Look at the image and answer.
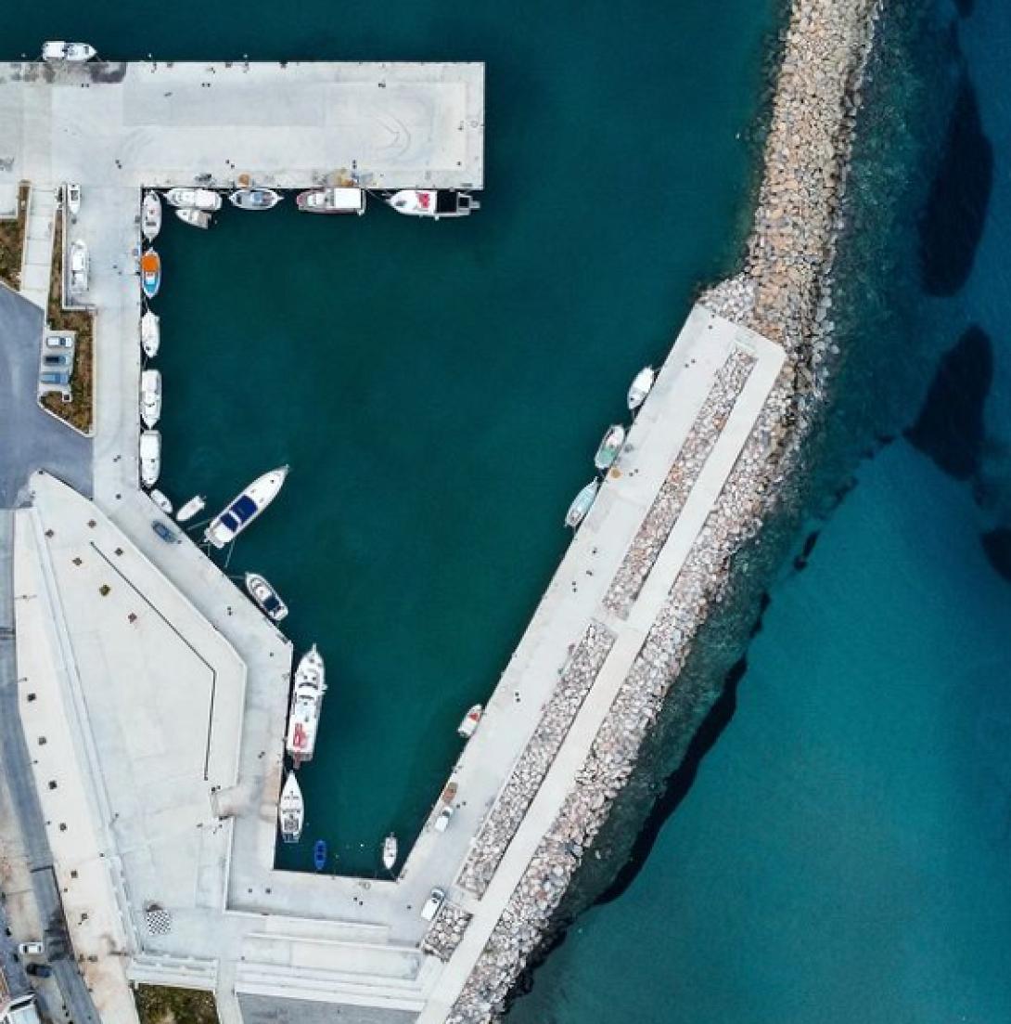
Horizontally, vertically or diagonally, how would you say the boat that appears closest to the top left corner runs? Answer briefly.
horizontally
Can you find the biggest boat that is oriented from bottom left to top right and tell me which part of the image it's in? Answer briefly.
left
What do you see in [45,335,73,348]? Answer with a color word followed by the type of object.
white vehicle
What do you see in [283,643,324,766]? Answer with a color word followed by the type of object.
white boat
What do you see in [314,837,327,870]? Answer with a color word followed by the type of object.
blue boat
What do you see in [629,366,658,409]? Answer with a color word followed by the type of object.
white boat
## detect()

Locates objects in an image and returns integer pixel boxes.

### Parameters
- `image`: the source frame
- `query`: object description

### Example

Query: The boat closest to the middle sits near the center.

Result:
[563,474,599,530]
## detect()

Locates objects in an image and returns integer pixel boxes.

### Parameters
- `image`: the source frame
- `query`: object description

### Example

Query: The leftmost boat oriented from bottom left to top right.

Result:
[177,495,207,522]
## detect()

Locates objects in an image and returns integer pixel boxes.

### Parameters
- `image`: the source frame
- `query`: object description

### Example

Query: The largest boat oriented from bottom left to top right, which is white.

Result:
[205,465,289,551]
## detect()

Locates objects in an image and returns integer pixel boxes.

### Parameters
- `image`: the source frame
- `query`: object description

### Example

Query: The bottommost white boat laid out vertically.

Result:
[383,834,396,870]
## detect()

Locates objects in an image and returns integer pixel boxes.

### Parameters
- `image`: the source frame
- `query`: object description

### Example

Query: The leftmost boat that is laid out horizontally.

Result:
[40,40,97,62]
